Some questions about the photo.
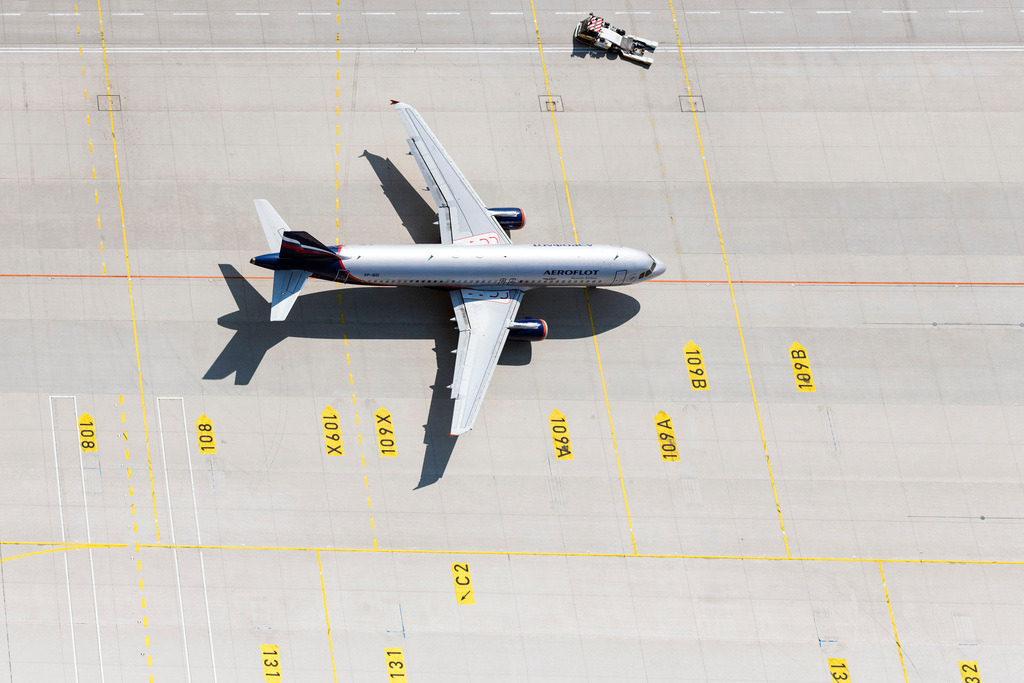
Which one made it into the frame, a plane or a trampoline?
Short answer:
plane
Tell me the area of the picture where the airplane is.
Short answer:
center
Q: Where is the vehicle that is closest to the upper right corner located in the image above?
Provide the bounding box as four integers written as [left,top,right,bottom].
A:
[575,13,658,66]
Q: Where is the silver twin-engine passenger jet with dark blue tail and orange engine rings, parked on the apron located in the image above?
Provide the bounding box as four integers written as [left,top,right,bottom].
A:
[250,101,666,437]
